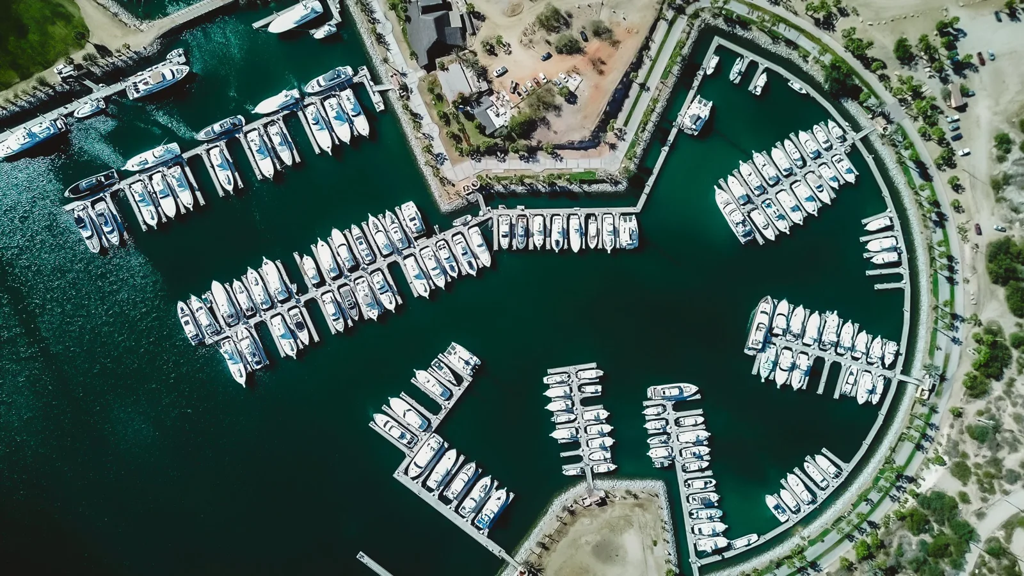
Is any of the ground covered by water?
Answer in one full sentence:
Yes, there is water in the image.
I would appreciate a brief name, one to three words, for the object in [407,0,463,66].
house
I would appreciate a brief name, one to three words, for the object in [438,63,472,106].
house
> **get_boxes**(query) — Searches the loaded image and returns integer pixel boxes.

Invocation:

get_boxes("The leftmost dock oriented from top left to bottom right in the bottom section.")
[356,550,395,576]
